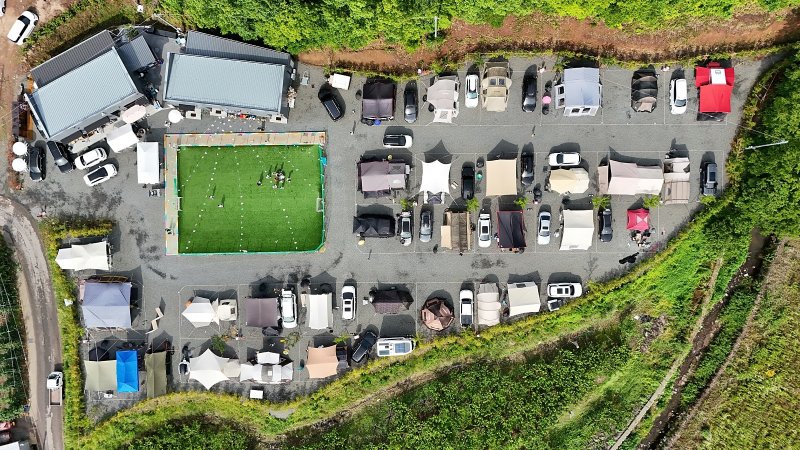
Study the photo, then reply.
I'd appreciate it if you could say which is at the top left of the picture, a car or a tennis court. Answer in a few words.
car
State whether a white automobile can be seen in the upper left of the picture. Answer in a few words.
Yes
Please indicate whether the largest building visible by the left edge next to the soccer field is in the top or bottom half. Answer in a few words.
top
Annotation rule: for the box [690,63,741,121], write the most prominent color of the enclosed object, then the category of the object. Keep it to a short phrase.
red tent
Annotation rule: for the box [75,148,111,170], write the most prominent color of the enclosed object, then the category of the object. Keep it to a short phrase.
white car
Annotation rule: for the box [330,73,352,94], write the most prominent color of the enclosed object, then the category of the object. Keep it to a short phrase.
white gazebo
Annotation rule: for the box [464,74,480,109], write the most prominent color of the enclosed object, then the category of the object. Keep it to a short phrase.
white car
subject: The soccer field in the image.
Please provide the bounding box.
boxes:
[165,132,326,255]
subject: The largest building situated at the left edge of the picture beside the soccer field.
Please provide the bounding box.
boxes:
[28,30,151,141]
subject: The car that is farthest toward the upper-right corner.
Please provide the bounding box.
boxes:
[669,78,688,115]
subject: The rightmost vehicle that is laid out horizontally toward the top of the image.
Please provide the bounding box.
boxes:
[548,151,581,167]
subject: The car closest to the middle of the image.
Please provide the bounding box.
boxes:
[397,212,413,245]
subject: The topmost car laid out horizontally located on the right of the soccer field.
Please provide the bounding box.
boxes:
[382,133,414,148]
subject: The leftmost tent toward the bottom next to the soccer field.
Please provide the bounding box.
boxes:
[76,275,143,335]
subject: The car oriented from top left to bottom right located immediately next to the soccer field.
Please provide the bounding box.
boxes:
[319,91,345,124]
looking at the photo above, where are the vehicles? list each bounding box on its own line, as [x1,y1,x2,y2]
[522,78,538,112]
[477,213,492,247]
[403,89,418,123]
[44,370,64,405]
[536,211,552,245]
[319,91,345,124]
[464,74,480,109]
[75,148,111,170]
[382,133,414,148]
[597,209,613,243]
[397,212,413,245]
[548,151,581,167]
[520,152,536,185]
[669,78,688,115]
[461,166,477,199]
[5,9,36,42]
[84,164,120,186]
[27,148,47,182]
[352,329,377,364]
[547,282,581,298]
[419,209,434,241]
[459,290,475,327]
[341,285,357,318]
[48,140,76,174]
[700,162,719,195]
[281,290,298,328]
